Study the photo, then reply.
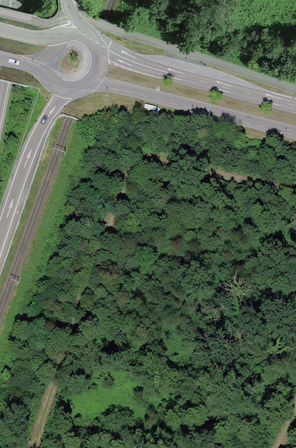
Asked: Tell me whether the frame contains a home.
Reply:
No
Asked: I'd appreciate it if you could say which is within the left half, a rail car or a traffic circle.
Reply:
traffic circle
